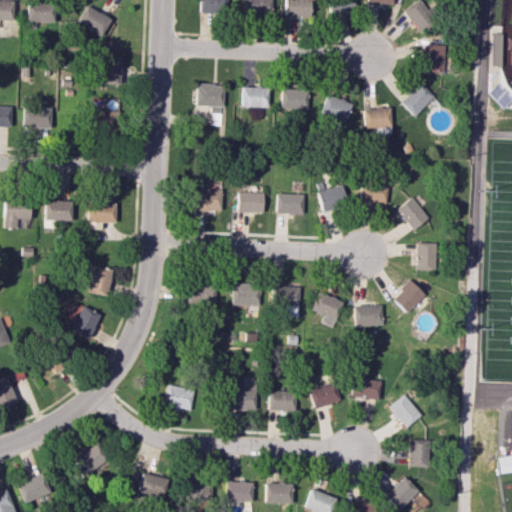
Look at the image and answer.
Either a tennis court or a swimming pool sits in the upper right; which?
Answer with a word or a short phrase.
swimming pool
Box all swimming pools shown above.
[106,98,119,111]
[426,106,456,136]
[412,308,440,341]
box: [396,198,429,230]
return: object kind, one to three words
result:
house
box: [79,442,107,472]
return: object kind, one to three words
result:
house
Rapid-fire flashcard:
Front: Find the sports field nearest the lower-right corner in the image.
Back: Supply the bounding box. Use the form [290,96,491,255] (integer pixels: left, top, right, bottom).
[482,142,512,381]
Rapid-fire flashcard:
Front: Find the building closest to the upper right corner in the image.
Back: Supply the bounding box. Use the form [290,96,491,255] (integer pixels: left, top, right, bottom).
[492,32,504,72]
